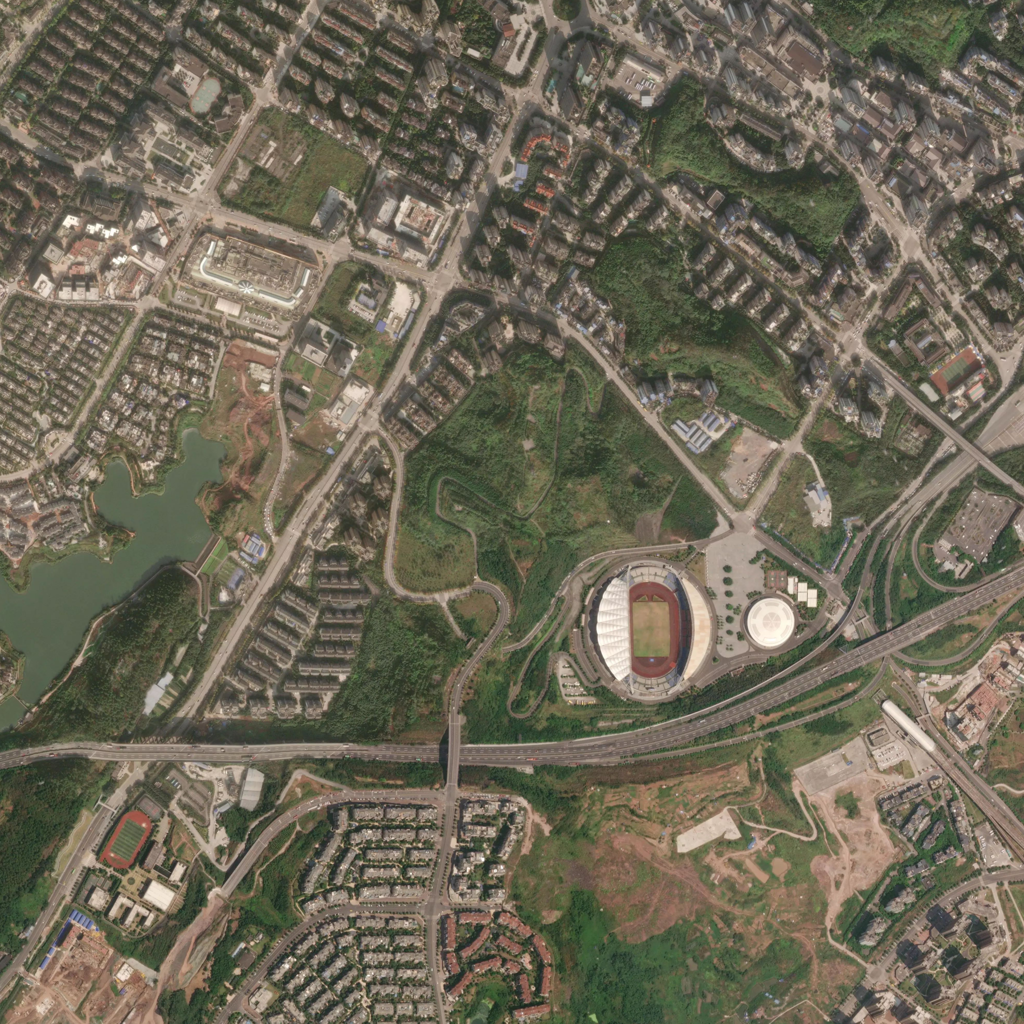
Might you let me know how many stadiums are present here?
two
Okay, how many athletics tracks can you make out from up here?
two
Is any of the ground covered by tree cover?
Yes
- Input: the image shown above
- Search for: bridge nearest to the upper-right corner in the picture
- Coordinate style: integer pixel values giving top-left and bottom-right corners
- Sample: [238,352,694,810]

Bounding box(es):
[856,348,1024,502]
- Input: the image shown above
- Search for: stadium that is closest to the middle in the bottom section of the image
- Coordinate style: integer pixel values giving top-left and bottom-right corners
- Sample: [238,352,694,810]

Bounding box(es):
[583,556,717,704]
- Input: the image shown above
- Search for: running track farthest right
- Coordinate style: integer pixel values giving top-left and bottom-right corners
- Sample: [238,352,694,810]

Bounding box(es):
[630,582,680,678]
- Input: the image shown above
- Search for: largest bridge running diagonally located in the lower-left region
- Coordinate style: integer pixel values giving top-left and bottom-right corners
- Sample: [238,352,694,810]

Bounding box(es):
[220,827,276,897]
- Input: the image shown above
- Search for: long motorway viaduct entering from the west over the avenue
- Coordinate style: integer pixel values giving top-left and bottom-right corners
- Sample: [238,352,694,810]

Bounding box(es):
[0,741,393,770]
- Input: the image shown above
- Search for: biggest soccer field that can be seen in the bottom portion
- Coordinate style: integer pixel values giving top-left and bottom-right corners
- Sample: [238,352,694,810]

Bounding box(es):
[633,602,670,657]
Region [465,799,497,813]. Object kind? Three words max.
building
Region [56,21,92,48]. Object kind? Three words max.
house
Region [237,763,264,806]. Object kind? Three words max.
shed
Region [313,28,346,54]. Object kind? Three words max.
building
